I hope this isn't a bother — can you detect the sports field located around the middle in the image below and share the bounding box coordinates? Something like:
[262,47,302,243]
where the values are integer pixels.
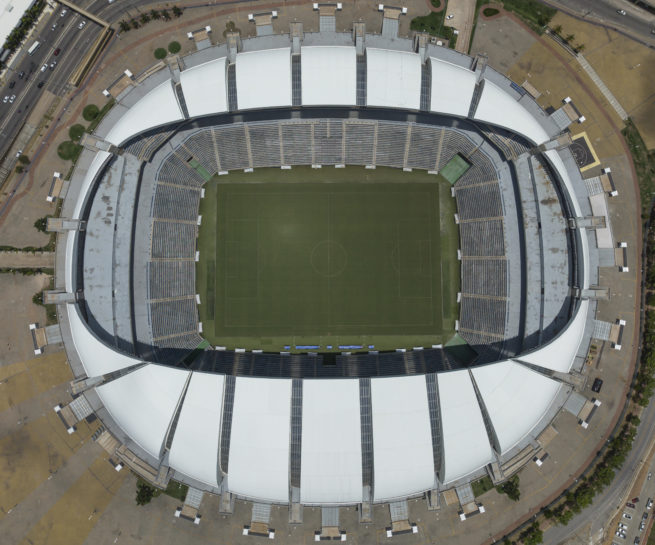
[196,165,461,353]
